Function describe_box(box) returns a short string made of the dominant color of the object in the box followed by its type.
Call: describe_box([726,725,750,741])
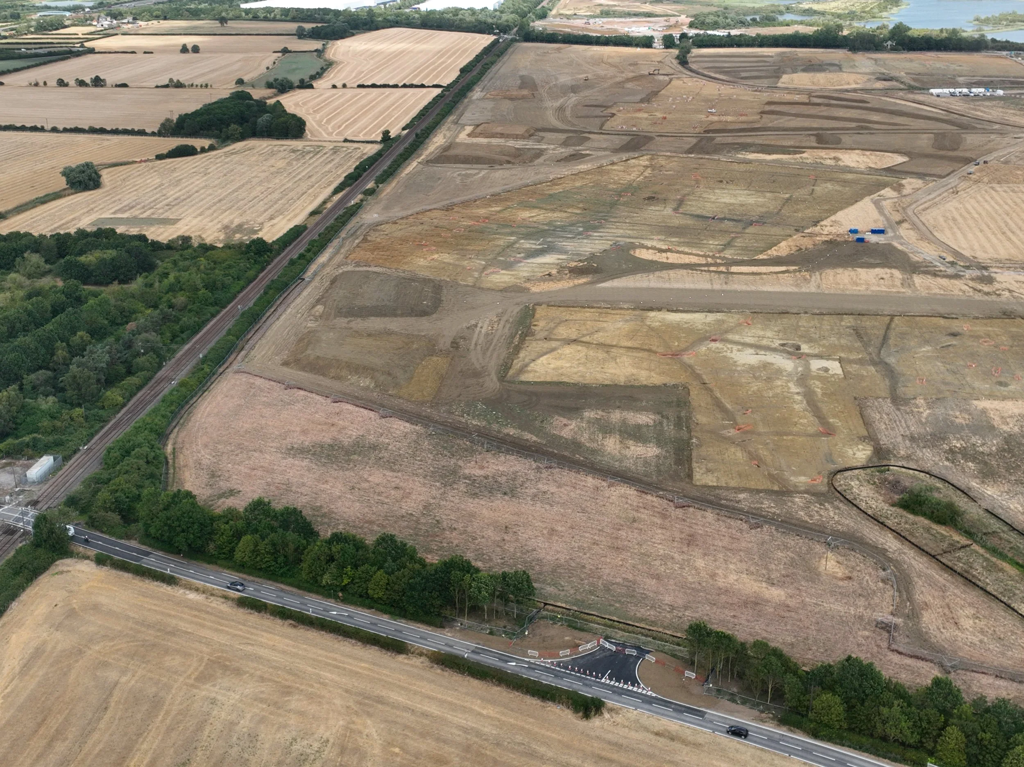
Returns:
black car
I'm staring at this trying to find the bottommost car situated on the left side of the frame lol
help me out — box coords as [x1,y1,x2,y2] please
[225,579,246,592]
